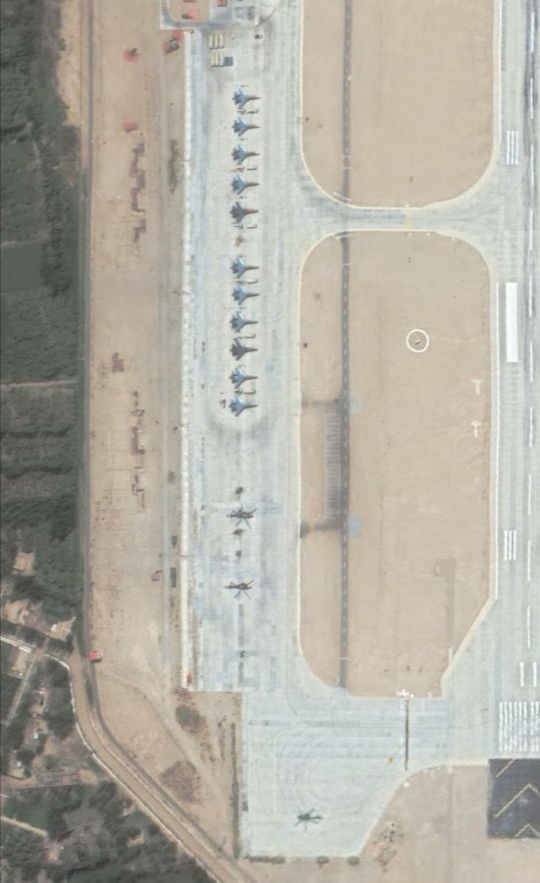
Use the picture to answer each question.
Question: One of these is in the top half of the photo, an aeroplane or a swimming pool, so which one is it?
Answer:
aeroplane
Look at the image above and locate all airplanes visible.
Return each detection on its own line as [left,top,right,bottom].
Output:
[231,259,259,277]
[233,88,259,107]
[232,145,260,164]
[231,285,258,304]
[230,313,257,331]
[229,368,256,386]
[233,117,261,135]
[229,341,256,359]
[232,175,259,193]
[231,203,259,221]
[229,396,256,415]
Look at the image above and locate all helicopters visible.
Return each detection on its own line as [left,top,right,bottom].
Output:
[225,574,254,598]
[227,502,255,526]
[293,807,322,830]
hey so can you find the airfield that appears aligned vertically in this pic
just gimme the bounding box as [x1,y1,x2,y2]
[161,0,540,856]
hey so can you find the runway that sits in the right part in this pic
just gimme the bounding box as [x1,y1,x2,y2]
[490,0,540,760]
